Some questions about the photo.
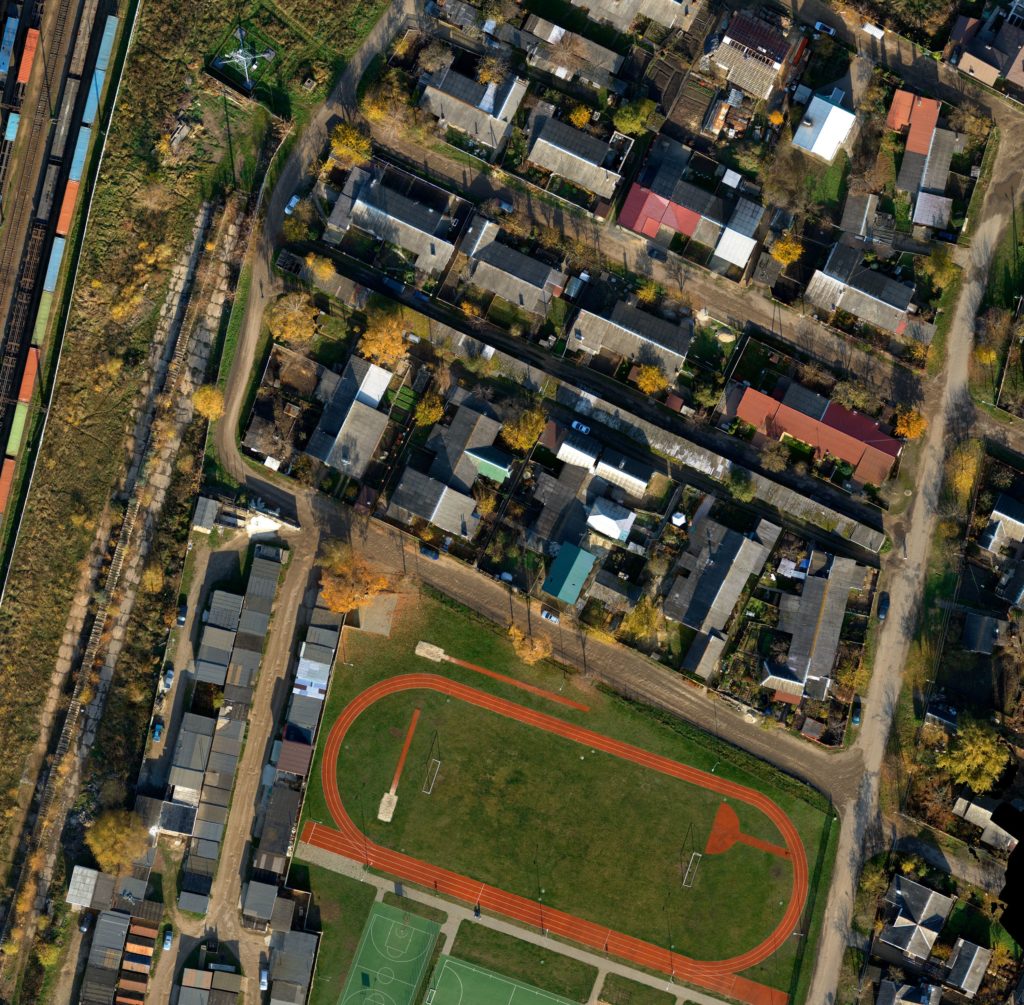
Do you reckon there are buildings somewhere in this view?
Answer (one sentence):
Yes, I can see a building in this picture.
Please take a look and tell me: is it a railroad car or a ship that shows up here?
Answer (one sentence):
There is a railroad car in the scene.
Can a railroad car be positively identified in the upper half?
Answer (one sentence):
Yes, the scene does show a railroad car in the upper half.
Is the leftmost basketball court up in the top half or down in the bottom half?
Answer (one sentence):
The leftmost basketball court is in the bottom half of the image.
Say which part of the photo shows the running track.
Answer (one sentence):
The running track is in the bottom part of the image.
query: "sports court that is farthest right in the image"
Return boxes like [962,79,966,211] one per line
[424,955,580,1005]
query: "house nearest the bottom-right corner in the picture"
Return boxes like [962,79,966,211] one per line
[946,939,991,993]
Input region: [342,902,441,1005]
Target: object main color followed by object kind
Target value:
green basketball court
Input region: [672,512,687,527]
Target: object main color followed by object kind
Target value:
white gazebo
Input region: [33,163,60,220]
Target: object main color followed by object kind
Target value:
gray rail car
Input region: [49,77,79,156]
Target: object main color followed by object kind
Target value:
gray rail car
